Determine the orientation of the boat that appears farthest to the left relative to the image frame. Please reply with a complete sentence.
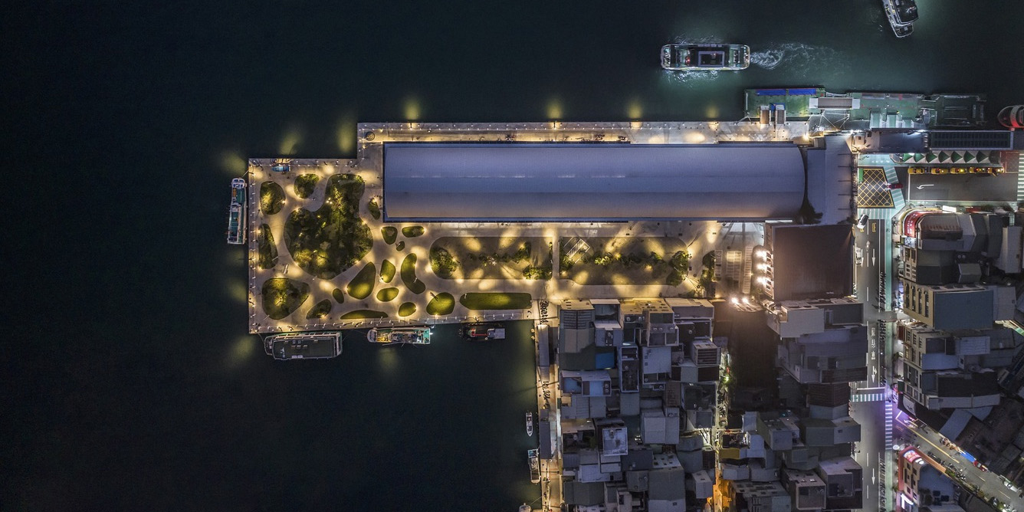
The boat that appears farthest to the left runs up and down in the image.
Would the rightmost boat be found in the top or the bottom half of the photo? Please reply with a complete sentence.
The rightmost boat sits in the top half of the picture.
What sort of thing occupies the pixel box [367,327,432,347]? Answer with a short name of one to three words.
boat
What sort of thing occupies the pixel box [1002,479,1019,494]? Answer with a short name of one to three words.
vehicle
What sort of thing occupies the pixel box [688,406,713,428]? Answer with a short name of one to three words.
house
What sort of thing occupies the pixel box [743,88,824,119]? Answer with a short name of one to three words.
pier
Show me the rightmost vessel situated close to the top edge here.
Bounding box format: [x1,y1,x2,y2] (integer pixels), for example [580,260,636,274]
[877,0,918,37]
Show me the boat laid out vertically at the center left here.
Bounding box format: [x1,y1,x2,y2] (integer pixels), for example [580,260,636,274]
[226,178,248,245]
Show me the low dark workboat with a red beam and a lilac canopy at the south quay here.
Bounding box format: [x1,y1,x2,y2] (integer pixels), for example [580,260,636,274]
[458,324,505,342]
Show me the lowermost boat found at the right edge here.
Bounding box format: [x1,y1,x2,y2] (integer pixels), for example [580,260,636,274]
[994,104,1024,131]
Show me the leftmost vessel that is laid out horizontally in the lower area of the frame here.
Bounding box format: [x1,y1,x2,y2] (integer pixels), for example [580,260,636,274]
[264,331,343,360]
